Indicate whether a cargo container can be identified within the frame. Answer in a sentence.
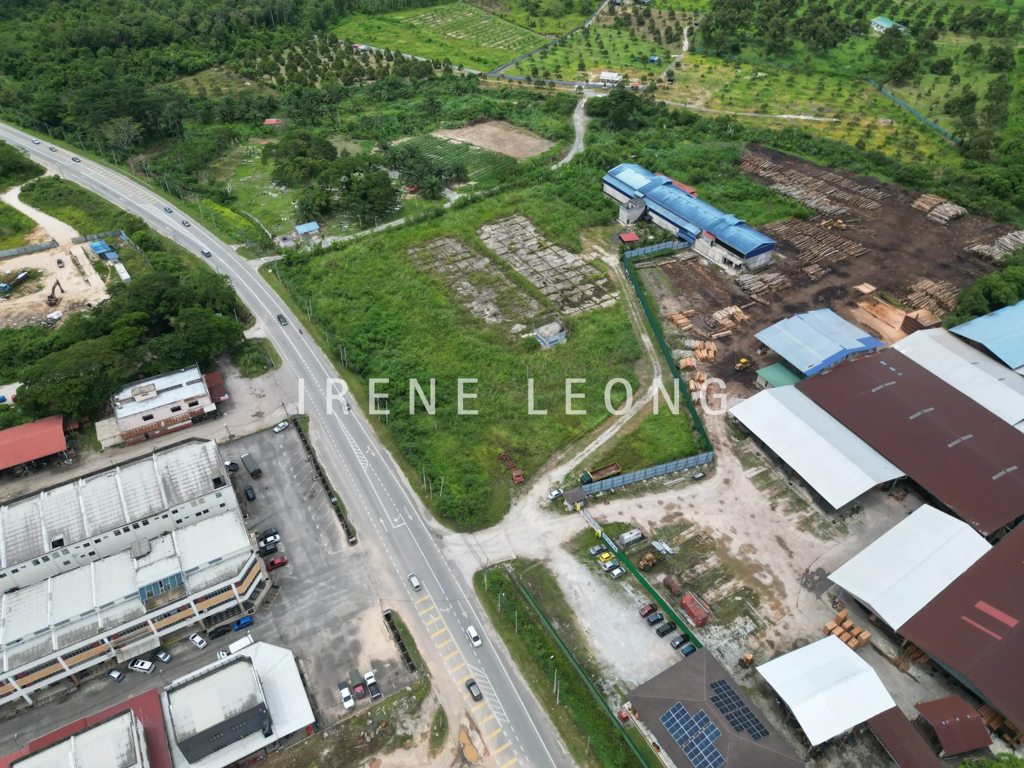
Yes, a cargo container is visible in the scene.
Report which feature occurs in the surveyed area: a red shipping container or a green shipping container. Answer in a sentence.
This aerial view contains a red shipping container.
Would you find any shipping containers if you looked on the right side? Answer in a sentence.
Yes, on the right side there is a shipping container.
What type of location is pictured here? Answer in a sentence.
It's an industrial area.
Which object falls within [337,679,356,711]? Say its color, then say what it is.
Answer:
white vehicle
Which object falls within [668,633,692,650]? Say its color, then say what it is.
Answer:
gray car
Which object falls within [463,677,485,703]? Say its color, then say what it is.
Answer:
gray car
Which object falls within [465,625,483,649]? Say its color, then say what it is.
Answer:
white car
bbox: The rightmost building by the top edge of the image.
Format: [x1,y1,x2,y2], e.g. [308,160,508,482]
[867,17,905,33]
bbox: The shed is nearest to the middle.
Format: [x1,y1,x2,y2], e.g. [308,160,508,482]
[533,321,567,347]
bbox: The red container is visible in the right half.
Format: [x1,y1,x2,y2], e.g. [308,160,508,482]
[679,593,708,627]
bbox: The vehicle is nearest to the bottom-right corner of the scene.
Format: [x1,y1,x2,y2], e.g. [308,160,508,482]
[727,647,759,675]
